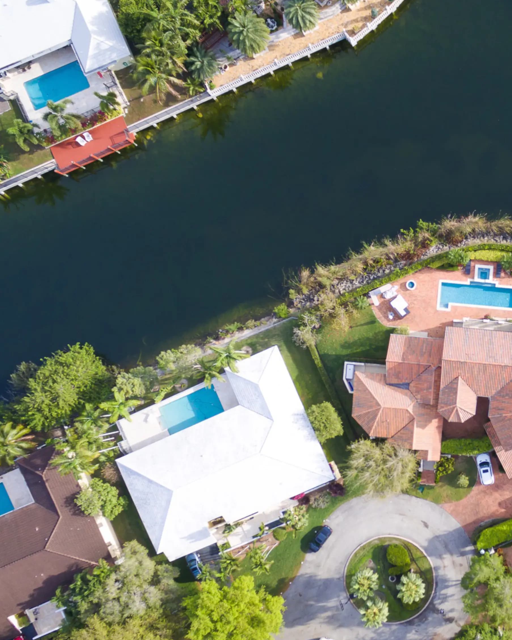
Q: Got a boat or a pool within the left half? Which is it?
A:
pool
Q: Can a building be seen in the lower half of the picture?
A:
Yes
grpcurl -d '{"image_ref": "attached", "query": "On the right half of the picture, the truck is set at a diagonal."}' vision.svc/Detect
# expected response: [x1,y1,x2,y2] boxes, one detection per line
[308,522,334,556]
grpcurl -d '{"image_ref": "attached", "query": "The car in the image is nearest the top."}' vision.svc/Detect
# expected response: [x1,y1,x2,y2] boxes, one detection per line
[477,453,493,486]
